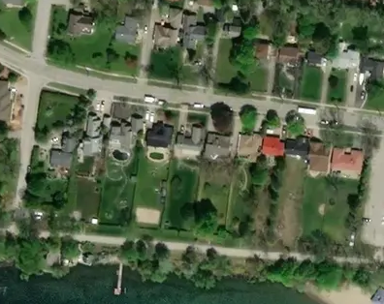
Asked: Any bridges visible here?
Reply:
No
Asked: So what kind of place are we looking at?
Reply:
residential area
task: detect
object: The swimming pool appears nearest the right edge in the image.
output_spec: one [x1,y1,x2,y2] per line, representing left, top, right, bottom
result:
[148,150,166,162]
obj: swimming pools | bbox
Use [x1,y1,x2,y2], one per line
[111,149,131,160]
[148,150,166,162]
